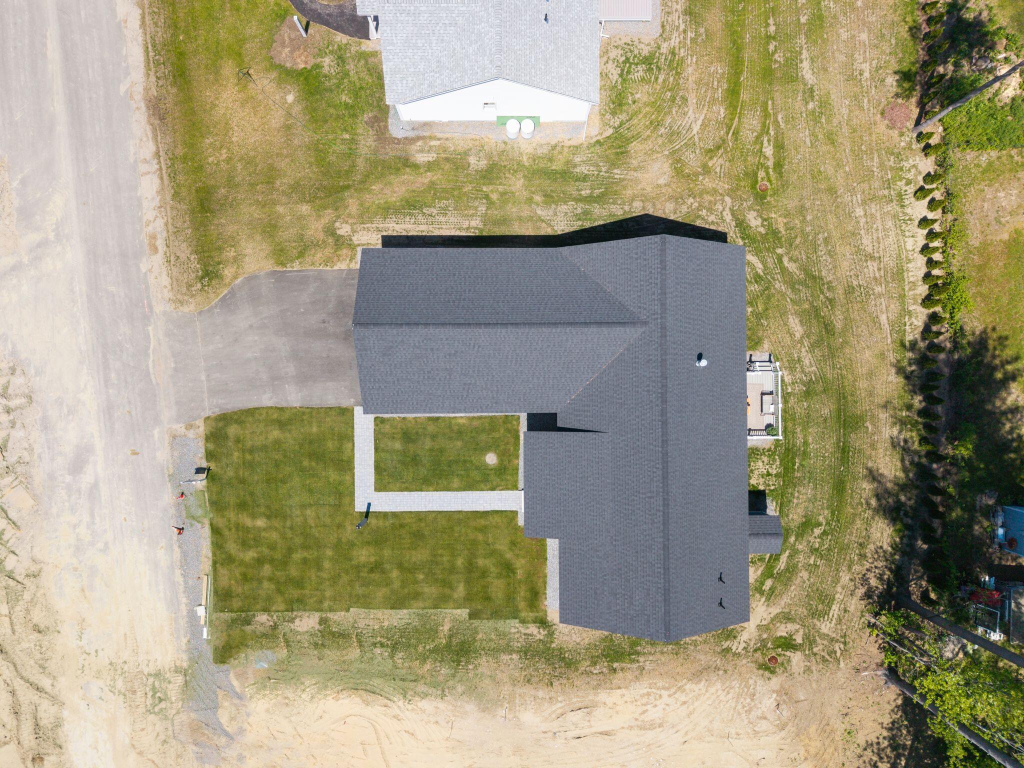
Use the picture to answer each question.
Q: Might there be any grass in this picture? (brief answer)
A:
Yes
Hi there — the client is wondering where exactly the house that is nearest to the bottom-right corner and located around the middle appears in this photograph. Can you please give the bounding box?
[351,235,788,642]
